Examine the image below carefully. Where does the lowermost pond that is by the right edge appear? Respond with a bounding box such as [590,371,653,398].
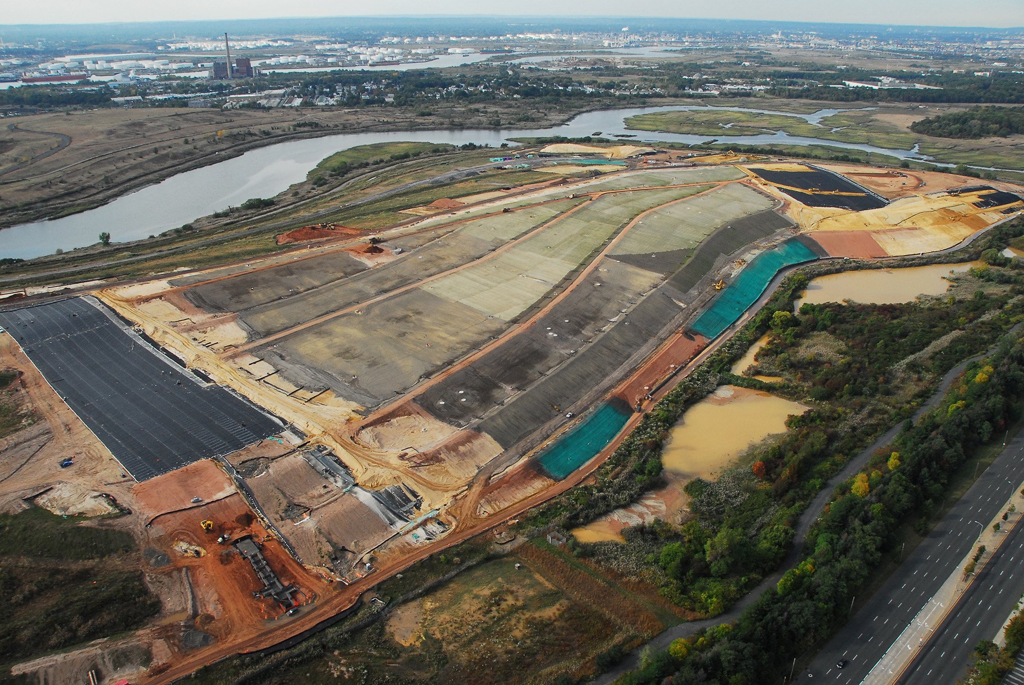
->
[795,261,988,305]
